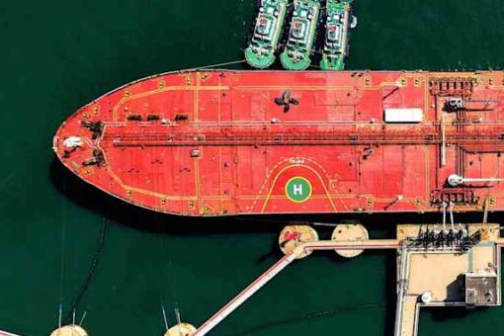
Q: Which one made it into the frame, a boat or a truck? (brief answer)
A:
boat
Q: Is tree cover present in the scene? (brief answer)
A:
No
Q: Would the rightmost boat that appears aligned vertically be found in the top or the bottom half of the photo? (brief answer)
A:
top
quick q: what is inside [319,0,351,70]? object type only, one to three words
boat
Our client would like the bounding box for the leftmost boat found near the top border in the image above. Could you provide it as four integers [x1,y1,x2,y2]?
[243,0,289,70]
